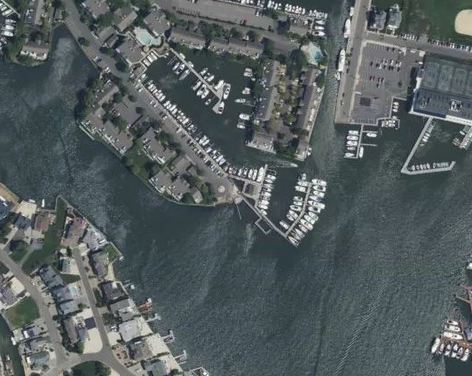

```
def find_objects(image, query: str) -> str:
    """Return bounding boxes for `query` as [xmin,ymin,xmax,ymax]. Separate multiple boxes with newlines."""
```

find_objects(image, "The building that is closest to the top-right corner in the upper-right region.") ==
[388,1,407,30]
